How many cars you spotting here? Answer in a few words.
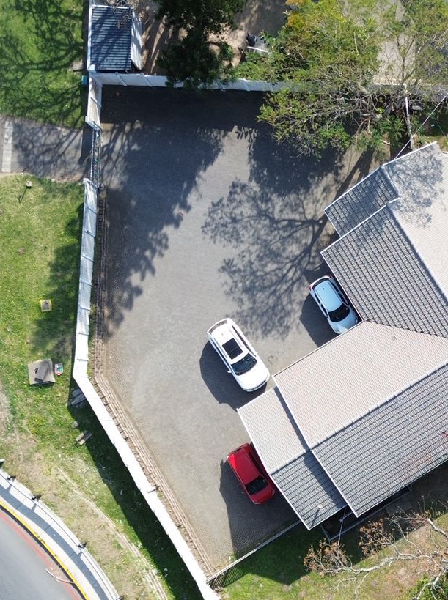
3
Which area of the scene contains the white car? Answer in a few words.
center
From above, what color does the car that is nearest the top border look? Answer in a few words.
blue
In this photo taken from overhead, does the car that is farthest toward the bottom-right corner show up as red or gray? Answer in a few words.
red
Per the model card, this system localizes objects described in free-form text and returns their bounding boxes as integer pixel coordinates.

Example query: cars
[307,274,356,334]
[210,319,268,393]
[225,442,274,503]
